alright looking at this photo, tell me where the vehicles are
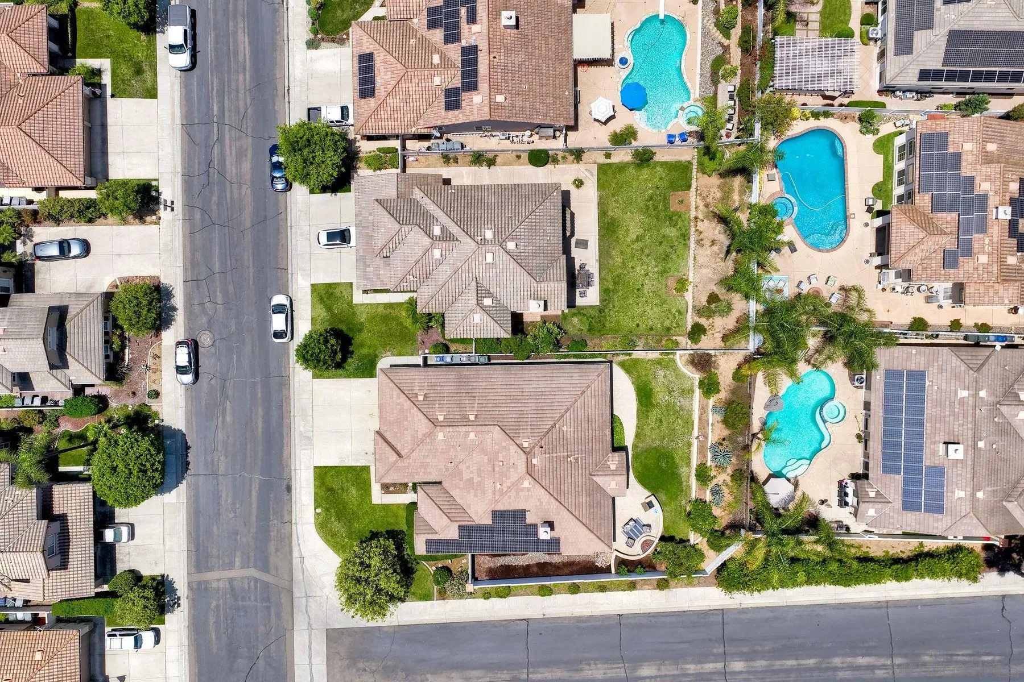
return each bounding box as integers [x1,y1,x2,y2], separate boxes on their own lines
[98,522,136,546]
[315,225,356,249]
[167,4,195,72]
[32,236,88,260]
[103,626,160,653]
[269,294,293,342]
[268,144,292,192]
[307,102,354,127]
[173,339,199,385]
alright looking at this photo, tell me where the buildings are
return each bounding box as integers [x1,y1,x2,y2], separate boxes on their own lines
[0,264,114,391]
[862,0,1024,102]
[847,344,1024,537]
[0,482,105,602]
[868,116,1024,305]
[374,362,628,555]
[0,625,91,682]
[0,3,94,187]
[354,172,571,340]
[350,0,574,136]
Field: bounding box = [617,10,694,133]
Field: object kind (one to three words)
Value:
swimming pool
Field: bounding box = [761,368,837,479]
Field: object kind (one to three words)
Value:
swimming pool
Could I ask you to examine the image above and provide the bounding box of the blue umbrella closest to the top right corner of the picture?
[620,84,647,111]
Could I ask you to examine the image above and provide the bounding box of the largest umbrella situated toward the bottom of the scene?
[762,476,793,507]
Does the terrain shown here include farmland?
No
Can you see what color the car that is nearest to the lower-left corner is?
white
